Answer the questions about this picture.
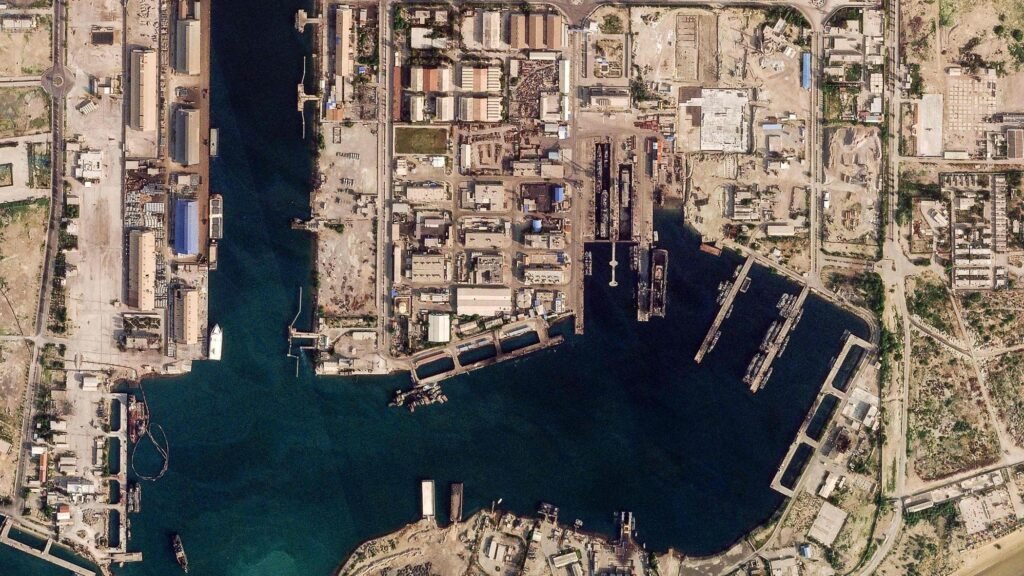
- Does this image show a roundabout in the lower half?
No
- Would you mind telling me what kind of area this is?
port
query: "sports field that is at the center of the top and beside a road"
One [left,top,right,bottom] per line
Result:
[391,125,449,155]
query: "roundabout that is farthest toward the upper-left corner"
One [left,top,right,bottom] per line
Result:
[41,65,75,98]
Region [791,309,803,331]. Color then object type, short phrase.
gray boat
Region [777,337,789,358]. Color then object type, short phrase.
gray boat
